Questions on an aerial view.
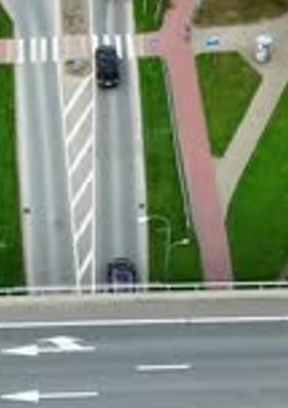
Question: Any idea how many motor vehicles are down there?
three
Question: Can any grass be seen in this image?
Yes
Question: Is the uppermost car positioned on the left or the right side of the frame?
right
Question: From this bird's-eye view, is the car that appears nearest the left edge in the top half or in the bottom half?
top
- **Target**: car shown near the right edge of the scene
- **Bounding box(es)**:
[253,37,275,64]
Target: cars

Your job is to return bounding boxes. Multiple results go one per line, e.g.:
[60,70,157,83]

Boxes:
[106,263,137,292]
[253,37,275,64]
[95,46,121,90]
